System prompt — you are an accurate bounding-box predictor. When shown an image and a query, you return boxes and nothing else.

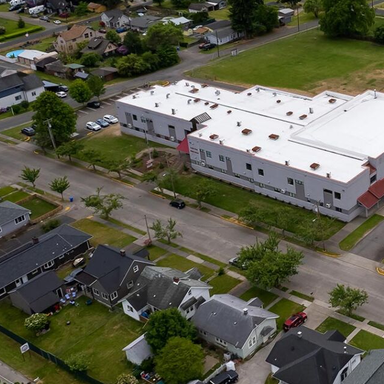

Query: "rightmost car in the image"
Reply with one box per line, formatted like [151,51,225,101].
[282,314,310,329]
